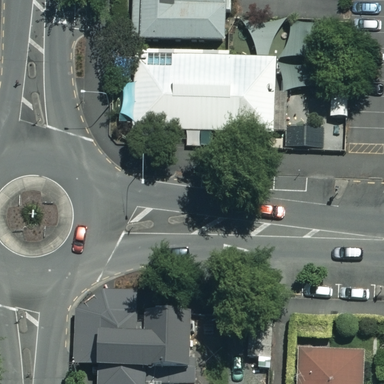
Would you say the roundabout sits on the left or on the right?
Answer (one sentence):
It is on the left.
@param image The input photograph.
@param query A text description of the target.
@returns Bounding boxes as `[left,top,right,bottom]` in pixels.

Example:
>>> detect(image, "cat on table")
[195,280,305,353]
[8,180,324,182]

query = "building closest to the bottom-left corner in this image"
[73,288,195,384]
